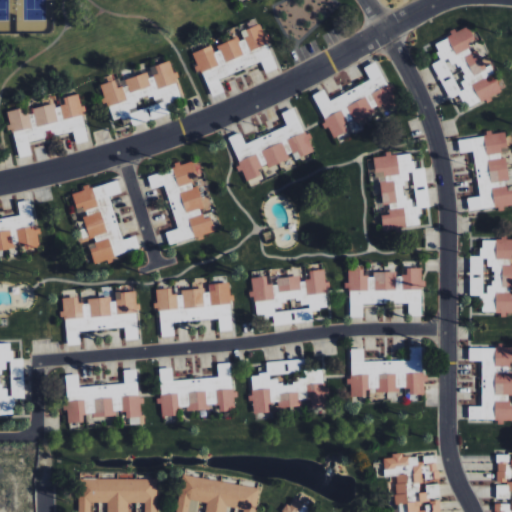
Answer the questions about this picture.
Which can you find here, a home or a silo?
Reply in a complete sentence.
I can see a home in this picture.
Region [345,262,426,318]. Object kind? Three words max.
house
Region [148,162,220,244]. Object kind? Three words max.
house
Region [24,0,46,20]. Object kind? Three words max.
tennis court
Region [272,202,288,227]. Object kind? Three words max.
swimming pool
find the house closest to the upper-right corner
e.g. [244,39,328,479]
[424,27,504,109]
